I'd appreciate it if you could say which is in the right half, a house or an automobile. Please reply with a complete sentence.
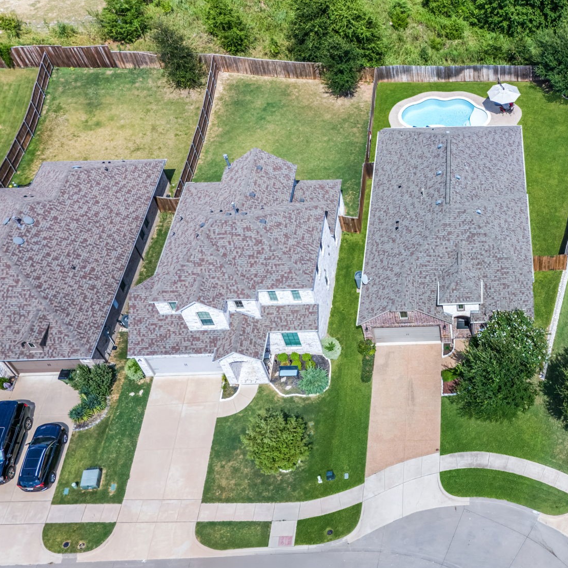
The feature located in the right half is a house.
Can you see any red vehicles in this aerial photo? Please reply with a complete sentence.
No, no red vehicle is visible in the view.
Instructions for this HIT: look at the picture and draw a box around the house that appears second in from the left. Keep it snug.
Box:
[125,144,342,382]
